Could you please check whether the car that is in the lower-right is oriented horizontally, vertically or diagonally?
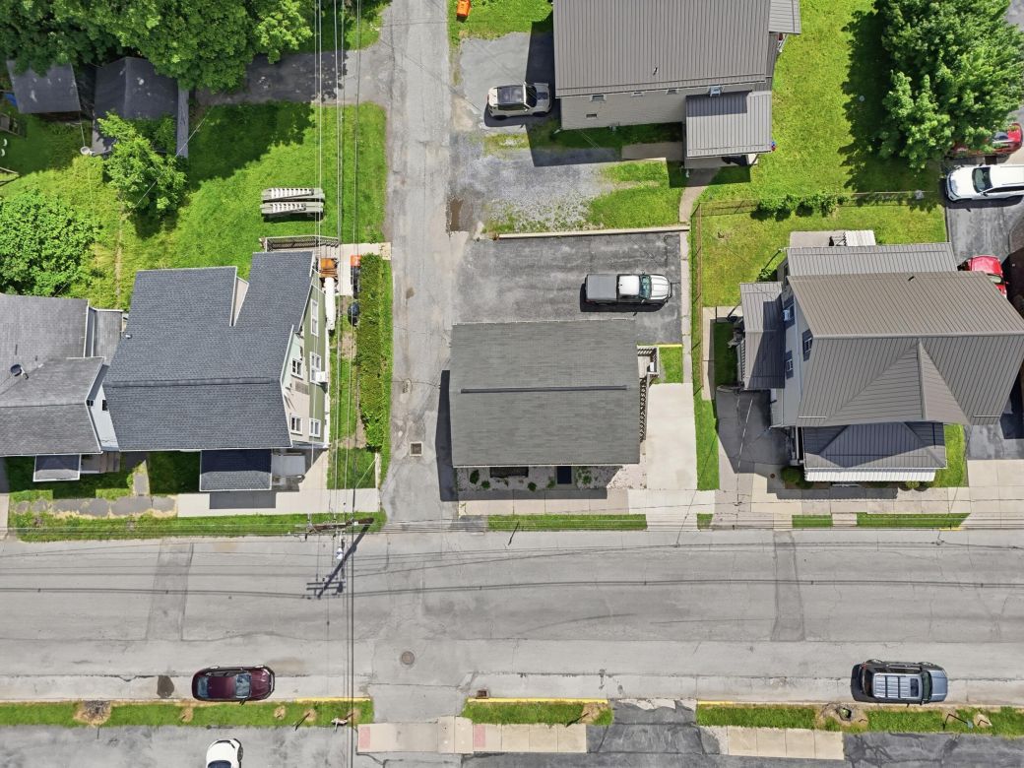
horizontally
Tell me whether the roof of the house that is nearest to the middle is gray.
Yes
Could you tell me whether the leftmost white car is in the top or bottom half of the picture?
bottom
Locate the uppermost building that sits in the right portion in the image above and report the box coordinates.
[544,0,800,178]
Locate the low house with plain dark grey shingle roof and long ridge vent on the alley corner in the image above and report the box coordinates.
[449,318,658,467]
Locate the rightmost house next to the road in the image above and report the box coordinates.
[713,230,1024,488]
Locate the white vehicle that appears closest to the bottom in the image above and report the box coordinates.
[203,736,245,768]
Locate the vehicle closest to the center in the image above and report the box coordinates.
[585,270,675,307]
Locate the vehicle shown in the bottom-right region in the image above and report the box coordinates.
[852,661,945,706]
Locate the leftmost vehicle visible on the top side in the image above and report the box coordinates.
[488,79,553,121]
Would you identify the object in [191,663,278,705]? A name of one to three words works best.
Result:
car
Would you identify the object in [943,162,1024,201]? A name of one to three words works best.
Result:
car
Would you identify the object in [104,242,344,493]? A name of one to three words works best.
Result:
building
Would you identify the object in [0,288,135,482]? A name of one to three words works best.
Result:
house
